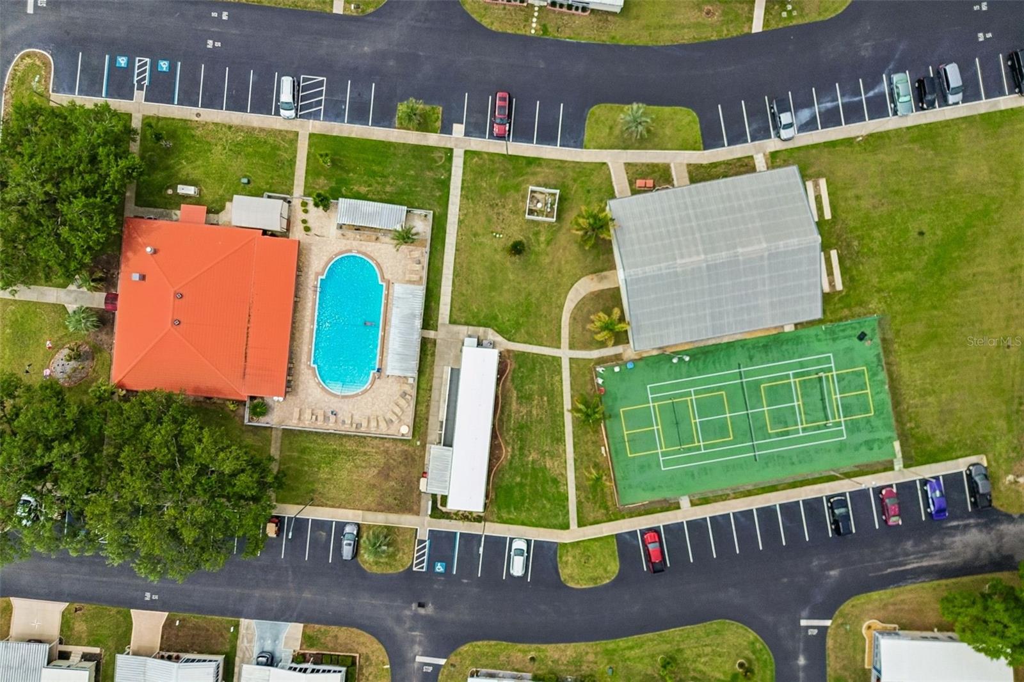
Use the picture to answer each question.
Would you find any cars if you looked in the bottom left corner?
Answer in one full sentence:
Yes, a car appears in the bottom left corner.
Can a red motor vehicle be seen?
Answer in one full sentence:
Yes, the frame does contain a red motor vehicle.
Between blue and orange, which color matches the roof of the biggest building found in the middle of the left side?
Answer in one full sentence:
The roof of the biggest building found in the middle of the left side looks orange in the image.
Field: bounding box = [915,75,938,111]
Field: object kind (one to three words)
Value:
car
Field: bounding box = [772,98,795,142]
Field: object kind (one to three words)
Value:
truck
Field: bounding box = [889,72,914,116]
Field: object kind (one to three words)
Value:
car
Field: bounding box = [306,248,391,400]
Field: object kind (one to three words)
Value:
swimming pool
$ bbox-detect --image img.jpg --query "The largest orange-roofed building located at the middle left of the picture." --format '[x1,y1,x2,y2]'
[91,205,303,401]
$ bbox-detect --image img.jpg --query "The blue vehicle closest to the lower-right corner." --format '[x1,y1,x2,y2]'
[923,478,947,521]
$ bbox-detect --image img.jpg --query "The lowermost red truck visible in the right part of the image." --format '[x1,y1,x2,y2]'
[642,528,665,574]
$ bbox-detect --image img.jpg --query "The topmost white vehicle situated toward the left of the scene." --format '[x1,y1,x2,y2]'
[277,76,297,119]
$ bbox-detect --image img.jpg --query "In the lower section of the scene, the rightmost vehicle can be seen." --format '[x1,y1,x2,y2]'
[966,463,993,510]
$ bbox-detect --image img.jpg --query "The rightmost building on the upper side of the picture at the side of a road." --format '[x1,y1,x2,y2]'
[605,165,823,352]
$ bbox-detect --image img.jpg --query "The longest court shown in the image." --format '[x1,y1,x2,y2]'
[595,317,896,506]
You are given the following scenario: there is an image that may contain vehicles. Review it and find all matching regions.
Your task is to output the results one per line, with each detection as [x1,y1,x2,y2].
[254,647,273,669]
[277,76,297,119]
[772,98,795,142]
[938,62,963,105]
[642,528,665,574]
[266,516,282,539]
[827,494,852,537]
[889,72,914,116]
[879,487,901,527]
[915,75,938,111]
[923,478,947,521]
[1005,47,1024,97]
[491,93,510,138]
[510,537,528,578]
[341,522,360,561]
[418,471,428,494]
[966,463,993,510]
[27,639,43,645]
